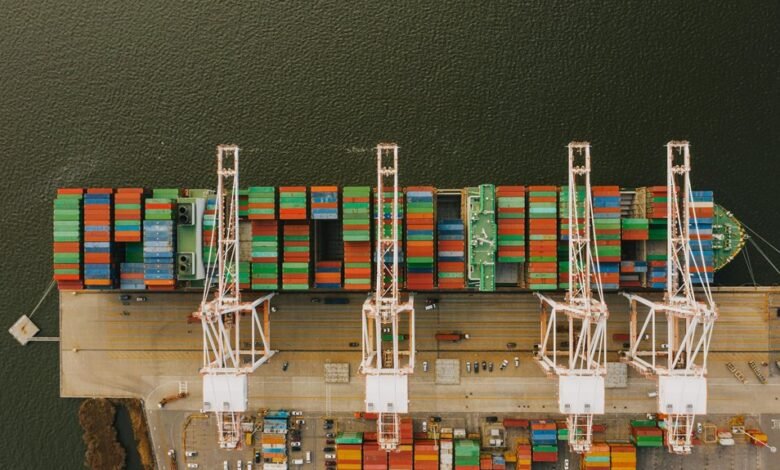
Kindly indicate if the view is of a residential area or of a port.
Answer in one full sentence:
This image shows a port.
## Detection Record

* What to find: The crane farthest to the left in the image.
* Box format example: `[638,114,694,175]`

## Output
[195,142,284,450]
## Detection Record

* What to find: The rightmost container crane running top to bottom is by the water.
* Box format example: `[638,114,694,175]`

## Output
[609,142,721,450]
